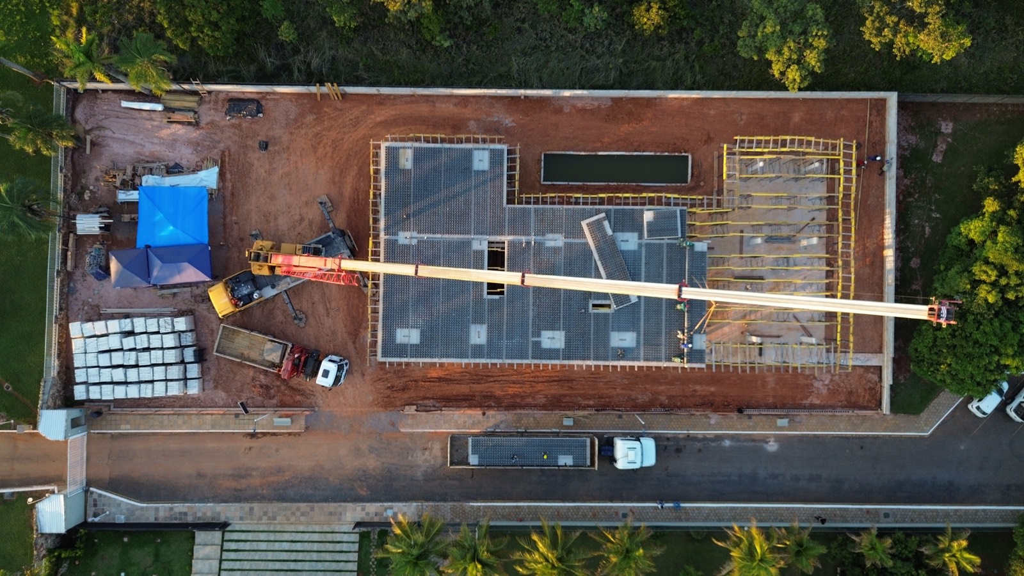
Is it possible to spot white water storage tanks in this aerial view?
No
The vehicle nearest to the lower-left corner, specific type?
truck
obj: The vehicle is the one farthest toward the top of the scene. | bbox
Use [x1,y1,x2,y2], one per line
[213,322,355,395]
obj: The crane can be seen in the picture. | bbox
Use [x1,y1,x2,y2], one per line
[204,203,973,331]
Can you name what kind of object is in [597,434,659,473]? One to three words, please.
truck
